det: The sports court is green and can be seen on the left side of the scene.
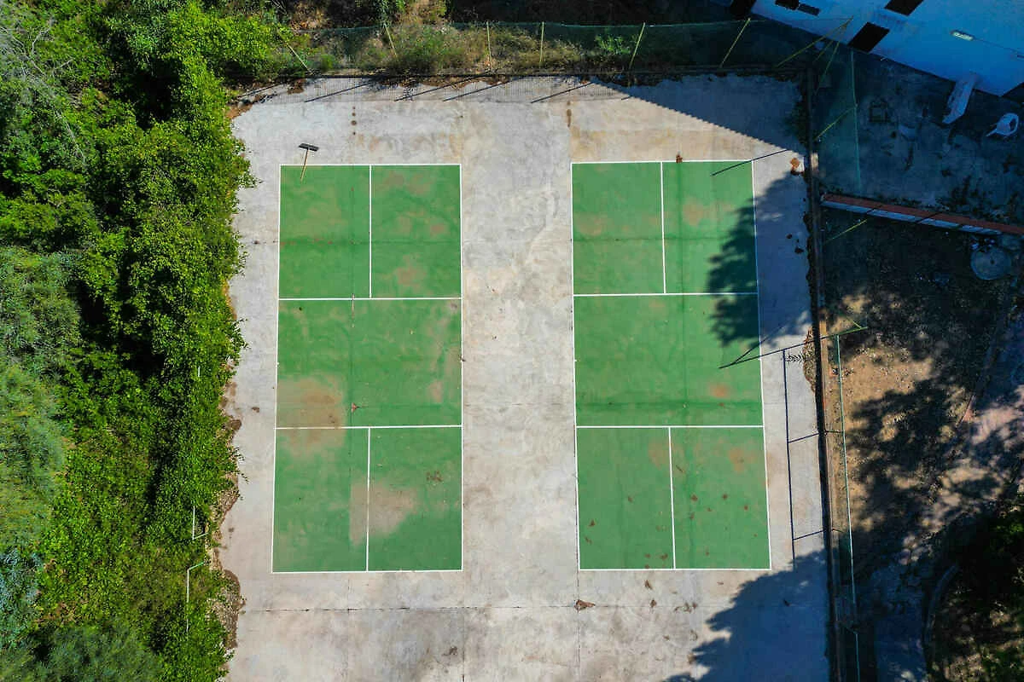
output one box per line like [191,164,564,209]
[272,162,464,574]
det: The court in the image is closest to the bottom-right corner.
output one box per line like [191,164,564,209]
[571,159,771,571]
